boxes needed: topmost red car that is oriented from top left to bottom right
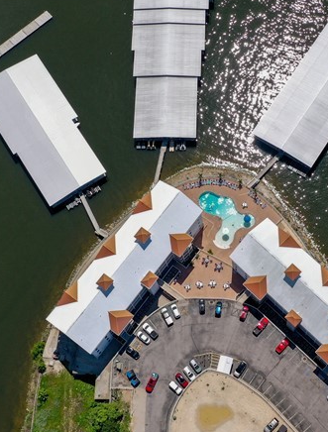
[175,372,188,388]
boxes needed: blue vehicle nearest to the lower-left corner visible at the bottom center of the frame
[125,370,139,387]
